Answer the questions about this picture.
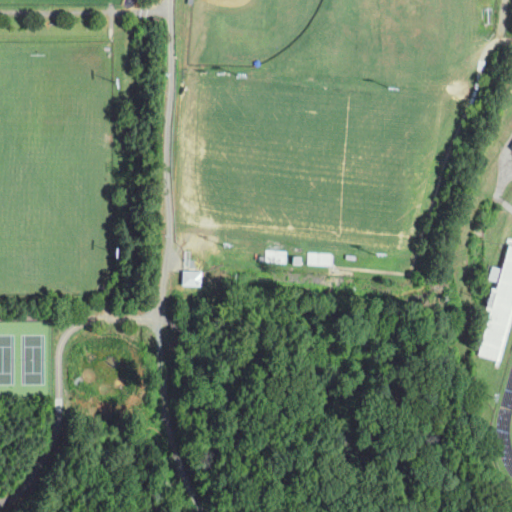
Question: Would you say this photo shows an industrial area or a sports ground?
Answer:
sports ground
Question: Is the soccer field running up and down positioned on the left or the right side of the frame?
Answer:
left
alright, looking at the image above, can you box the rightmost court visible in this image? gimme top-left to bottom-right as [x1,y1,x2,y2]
[22,336,46,385]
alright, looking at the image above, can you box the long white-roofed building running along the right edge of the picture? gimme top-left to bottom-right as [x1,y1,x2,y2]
[477,241,512,370]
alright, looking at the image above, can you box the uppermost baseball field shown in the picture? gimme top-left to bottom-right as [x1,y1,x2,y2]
[190,0,318,64]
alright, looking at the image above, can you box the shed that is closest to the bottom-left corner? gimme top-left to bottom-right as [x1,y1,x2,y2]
[182,271,204,288]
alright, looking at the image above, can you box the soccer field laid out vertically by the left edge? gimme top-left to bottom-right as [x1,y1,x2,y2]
[0,43,110,294]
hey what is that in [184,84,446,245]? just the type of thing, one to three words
sports field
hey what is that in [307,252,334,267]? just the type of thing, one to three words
shed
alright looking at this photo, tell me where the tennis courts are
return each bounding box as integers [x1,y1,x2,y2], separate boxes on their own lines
[22,336,46,385]
[0,336,16,385]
